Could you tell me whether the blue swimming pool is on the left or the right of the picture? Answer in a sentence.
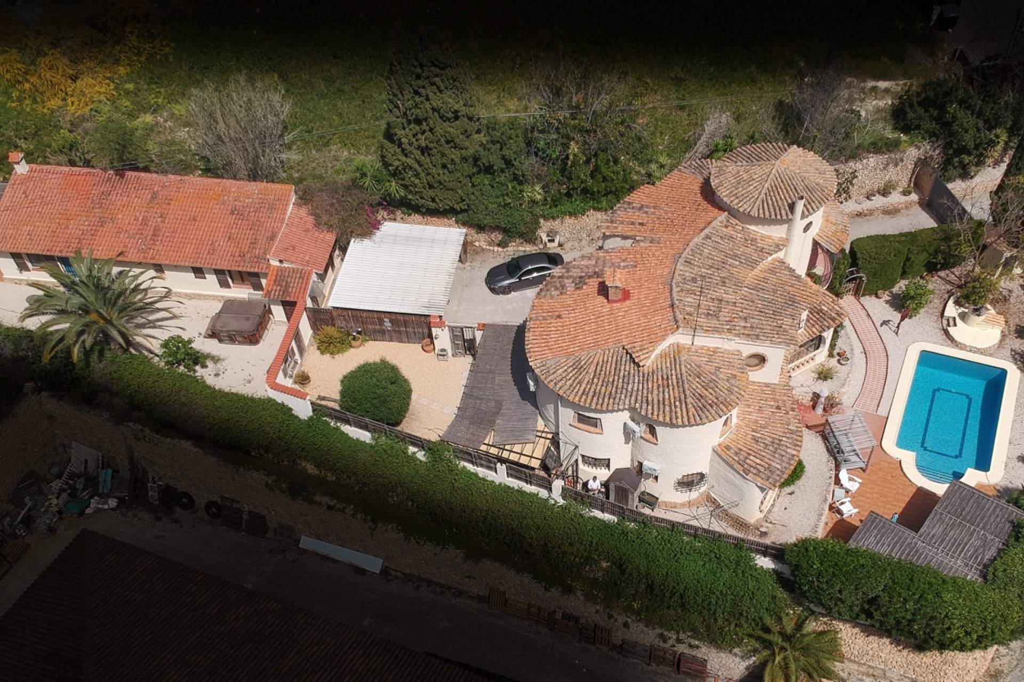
It is on the right.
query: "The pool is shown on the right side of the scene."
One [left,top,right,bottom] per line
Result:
[883,342,1019,494]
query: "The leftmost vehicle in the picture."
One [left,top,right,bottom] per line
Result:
[479,248,567,299]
